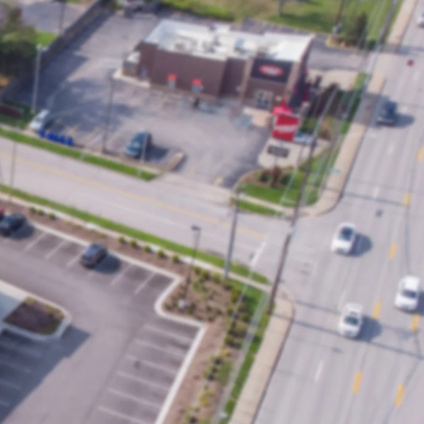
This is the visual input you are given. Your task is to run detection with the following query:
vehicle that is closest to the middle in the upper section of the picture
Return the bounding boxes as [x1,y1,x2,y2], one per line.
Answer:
[119,135,157,158]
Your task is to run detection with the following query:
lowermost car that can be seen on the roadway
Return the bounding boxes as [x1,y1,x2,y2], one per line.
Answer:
[338,307,366,341]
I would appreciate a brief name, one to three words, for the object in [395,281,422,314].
car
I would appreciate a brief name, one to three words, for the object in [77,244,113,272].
car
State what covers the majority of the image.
paved ground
